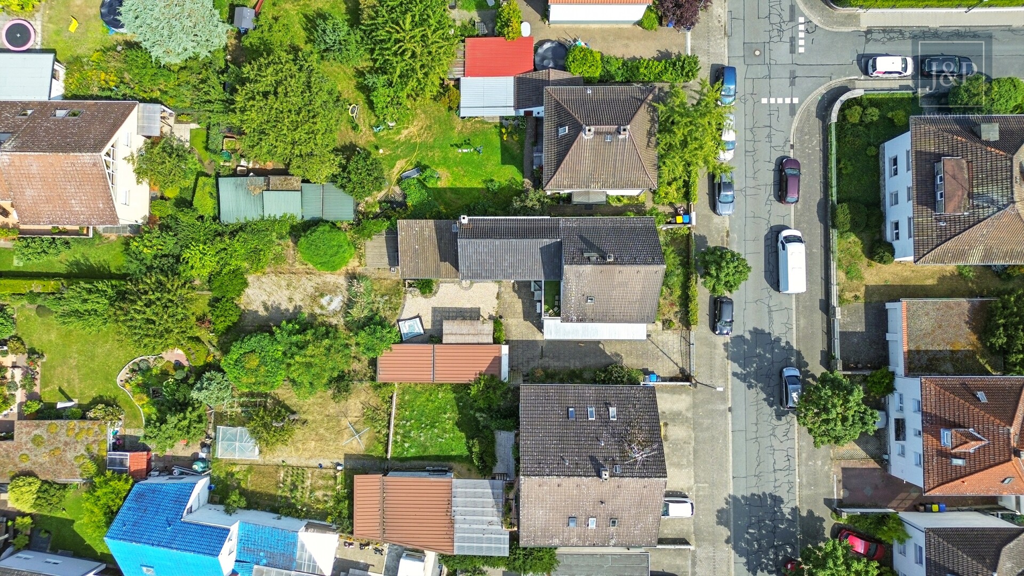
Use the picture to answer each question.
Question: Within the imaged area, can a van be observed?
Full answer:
Yes, there's a van here.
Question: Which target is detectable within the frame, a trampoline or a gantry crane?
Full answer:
There is a trampoline in the scene.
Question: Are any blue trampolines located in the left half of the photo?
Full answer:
No, I can find no blue trampoline in the left half of the photo.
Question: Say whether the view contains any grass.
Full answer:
Yes, there's grass in this view.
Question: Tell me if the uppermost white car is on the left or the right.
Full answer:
You can find the uppermost white car on the right side of the picture.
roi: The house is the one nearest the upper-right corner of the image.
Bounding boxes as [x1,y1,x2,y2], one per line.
[883,113,1024,266]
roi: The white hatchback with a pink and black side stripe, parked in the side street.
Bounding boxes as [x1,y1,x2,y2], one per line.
[865,54,910,79]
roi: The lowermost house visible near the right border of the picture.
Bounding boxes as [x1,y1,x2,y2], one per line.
[895,513,1024,576]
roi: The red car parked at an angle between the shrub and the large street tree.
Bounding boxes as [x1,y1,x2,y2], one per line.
[833,525,884,560]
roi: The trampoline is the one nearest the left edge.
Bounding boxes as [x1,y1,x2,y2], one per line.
[2,19,39,46]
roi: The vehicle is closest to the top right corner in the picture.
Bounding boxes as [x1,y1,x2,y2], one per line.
[918,54,970,79]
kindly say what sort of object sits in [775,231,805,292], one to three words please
van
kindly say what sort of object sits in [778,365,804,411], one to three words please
car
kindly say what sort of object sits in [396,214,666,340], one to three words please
house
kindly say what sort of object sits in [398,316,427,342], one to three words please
gazebo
